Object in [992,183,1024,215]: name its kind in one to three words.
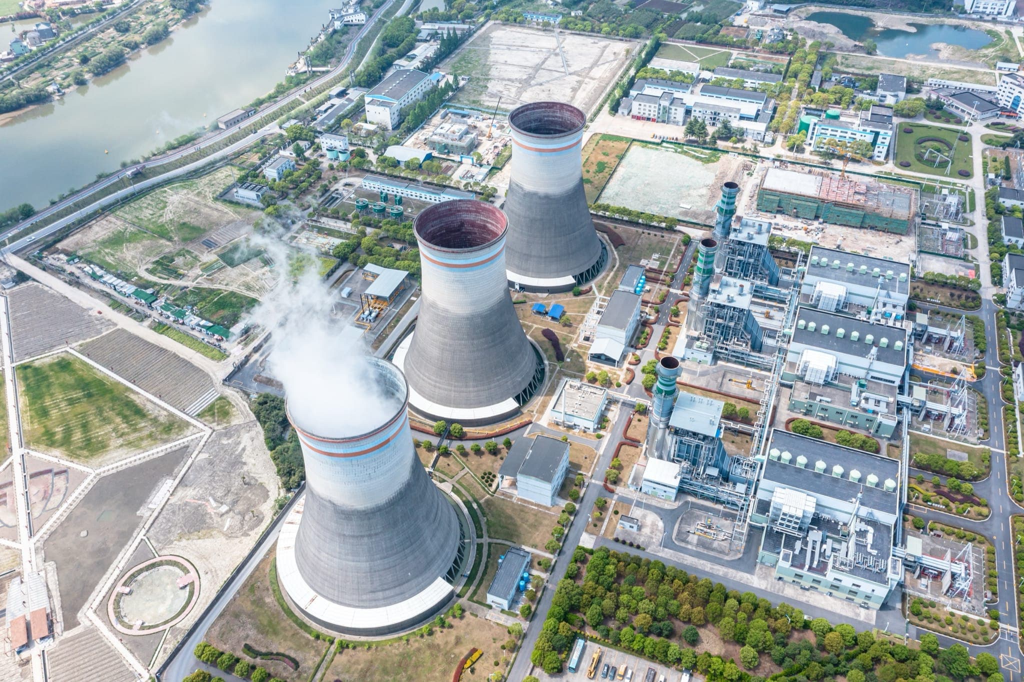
house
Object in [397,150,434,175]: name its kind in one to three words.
building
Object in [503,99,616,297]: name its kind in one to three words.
cooling tower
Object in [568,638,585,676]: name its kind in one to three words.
vehicle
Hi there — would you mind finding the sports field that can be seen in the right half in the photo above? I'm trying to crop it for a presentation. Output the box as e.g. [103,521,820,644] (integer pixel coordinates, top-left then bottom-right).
[632,43,730,69]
